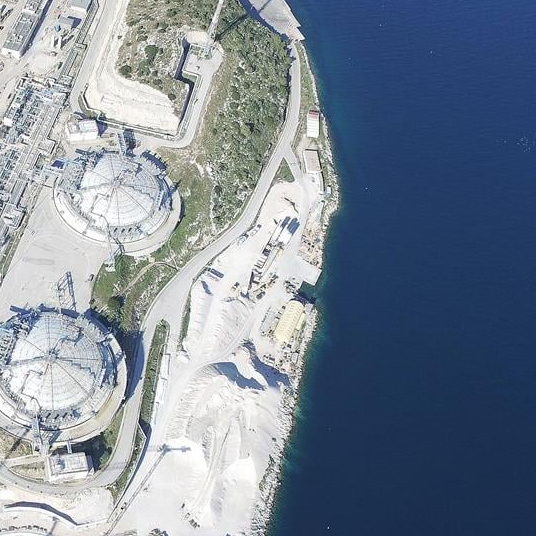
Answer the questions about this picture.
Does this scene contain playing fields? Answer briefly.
No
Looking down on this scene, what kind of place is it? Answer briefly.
industrial area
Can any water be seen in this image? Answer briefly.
Yes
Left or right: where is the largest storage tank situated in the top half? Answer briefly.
left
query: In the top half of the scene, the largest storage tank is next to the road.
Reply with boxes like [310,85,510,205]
[51,133,183,261]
